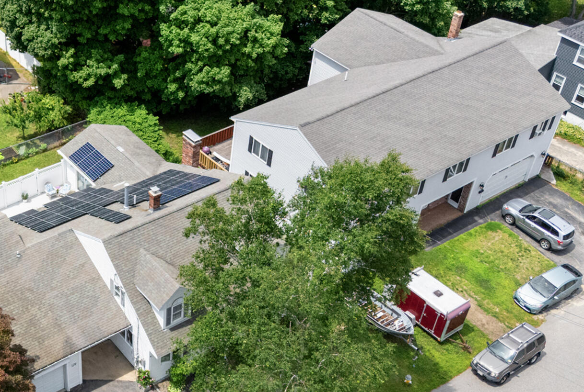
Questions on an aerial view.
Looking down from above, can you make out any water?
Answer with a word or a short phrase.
No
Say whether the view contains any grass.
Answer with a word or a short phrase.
Yes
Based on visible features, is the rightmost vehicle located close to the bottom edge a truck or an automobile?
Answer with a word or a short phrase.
automobile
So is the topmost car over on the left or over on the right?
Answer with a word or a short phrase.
right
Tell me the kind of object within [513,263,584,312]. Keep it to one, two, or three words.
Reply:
car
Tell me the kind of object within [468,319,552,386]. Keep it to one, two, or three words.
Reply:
car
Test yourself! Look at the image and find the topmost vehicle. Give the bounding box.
[504,204,583,254]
